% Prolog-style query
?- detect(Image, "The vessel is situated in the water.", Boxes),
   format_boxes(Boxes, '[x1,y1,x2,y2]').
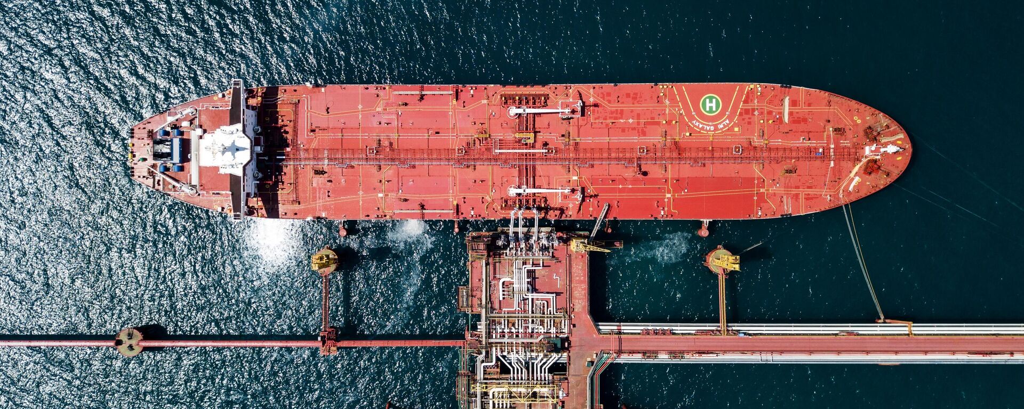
[128,78,913,220]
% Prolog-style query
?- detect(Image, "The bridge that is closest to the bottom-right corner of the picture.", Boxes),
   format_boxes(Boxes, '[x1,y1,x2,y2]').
[598,323,1024,365]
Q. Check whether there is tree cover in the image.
No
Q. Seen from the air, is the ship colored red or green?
red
